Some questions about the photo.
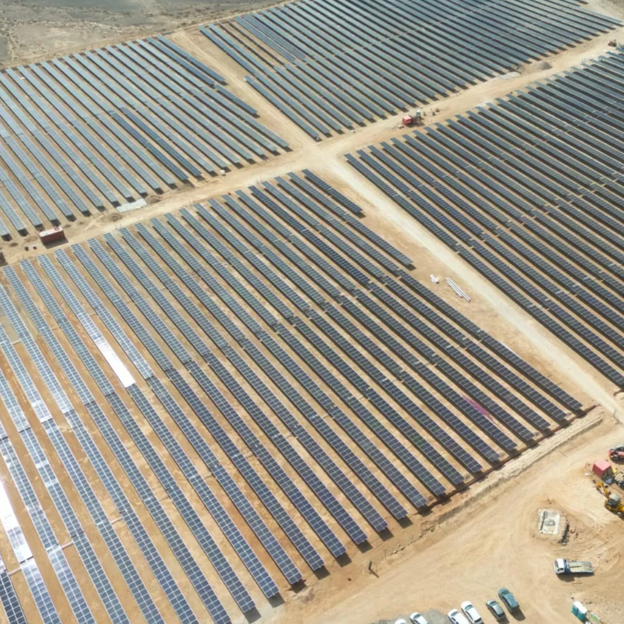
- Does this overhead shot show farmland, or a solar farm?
solar farm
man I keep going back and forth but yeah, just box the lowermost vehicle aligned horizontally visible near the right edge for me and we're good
[554,556,594,576]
